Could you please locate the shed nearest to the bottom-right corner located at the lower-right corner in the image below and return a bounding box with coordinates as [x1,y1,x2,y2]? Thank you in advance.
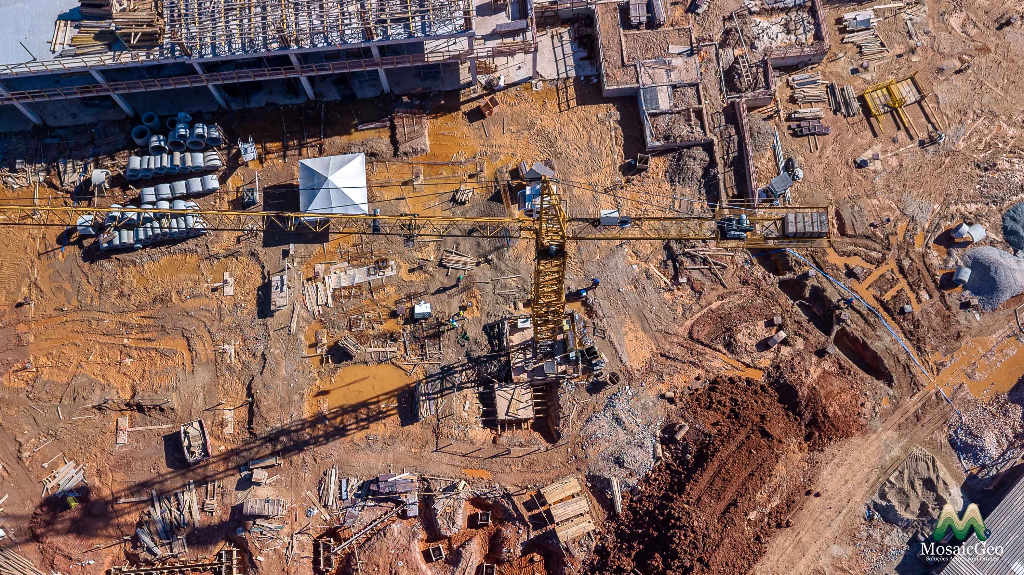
[920,469,1024,575]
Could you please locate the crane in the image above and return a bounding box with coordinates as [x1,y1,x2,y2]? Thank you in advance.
[0,167,849,359]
